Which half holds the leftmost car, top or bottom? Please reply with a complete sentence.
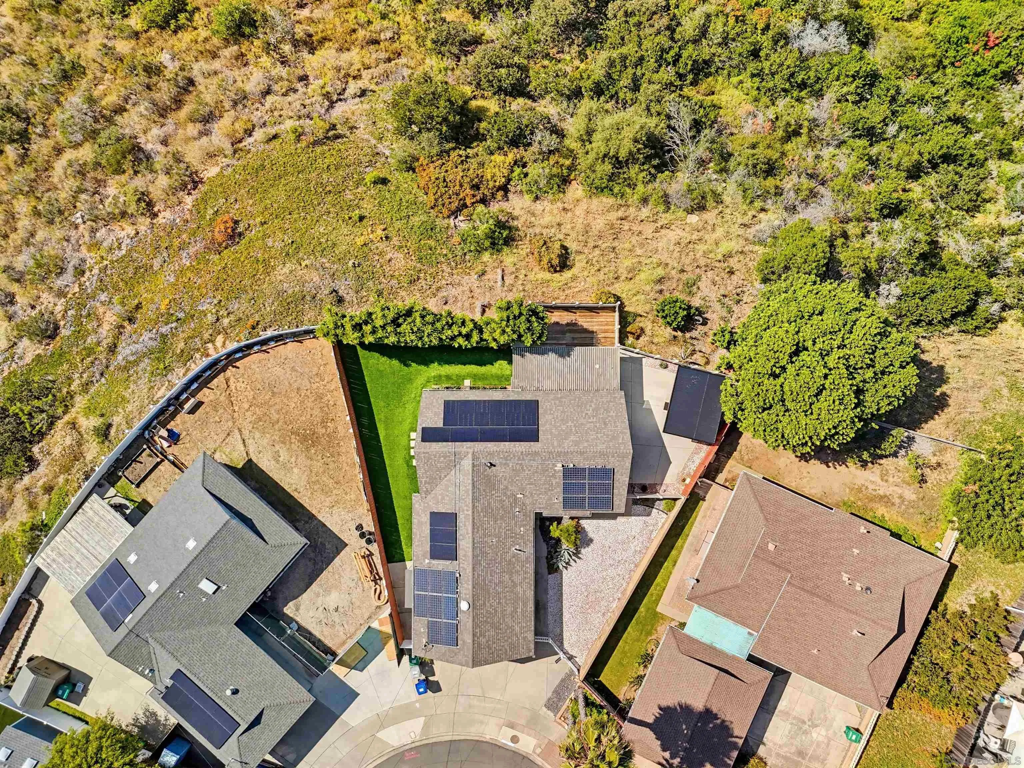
The leftmost car is in the bottom half of the image.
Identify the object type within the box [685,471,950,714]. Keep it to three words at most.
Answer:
house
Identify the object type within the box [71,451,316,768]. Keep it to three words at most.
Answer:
house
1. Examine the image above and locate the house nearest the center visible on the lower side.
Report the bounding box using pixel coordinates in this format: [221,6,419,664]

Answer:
[412,390,633,668]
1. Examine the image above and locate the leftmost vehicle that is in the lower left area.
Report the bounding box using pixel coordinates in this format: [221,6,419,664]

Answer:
[155,732,197,768]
